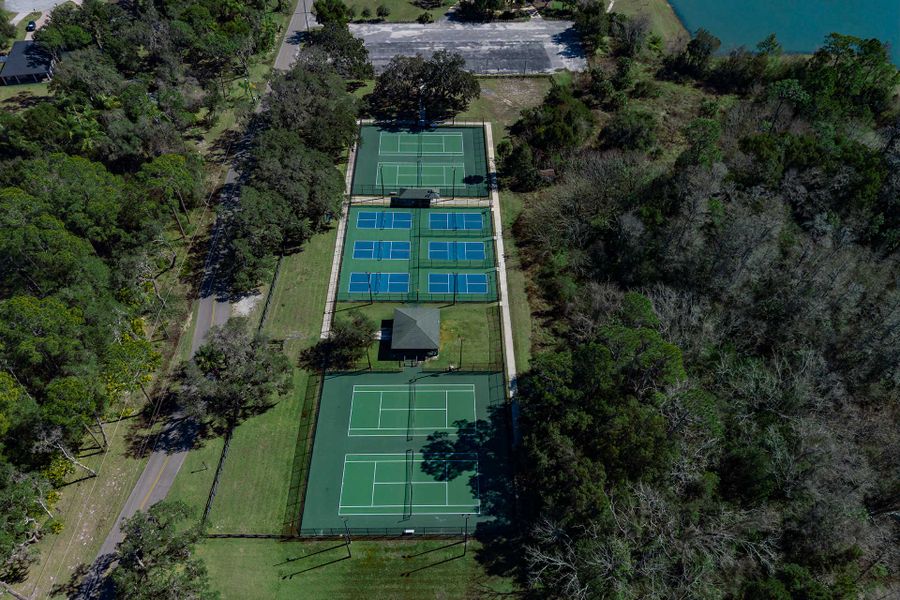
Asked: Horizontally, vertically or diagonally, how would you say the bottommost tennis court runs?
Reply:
horizontally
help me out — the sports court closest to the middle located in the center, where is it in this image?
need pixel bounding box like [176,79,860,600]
[429,273,489,293]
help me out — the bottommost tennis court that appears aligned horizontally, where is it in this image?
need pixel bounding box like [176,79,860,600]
[338,448,481,519]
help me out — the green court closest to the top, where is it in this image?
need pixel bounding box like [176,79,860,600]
[379,133,463,155]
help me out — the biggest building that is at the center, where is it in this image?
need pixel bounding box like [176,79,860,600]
[392,308,439,356]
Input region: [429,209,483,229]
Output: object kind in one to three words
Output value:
sports court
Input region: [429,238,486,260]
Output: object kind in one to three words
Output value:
sports court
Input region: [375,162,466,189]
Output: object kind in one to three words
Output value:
tennis court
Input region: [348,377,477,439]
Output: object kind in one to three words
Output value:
tennis court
